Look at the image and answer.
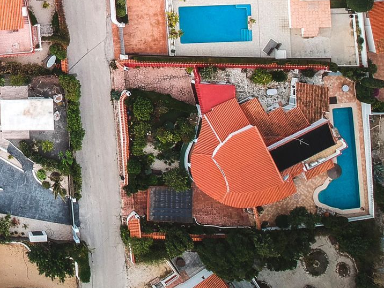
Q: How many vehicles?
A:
zero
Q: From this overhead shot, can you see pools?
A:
Yes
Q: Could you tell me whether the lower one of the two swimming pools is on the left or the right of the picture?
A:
right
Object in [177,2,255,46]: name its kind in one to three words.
swimming pool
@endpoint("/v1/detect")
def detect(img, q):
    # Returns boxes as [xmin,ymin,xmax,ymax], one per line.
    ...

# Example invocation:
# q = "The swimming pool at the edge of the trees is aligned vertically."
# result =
[314,103,367,215]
